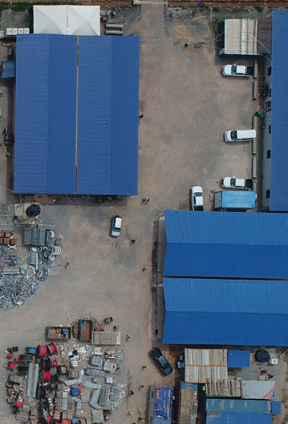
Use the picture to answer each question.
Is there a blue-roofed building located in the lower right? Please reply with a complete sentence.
Yes, the scene does show a blue-roofed building in the lower right.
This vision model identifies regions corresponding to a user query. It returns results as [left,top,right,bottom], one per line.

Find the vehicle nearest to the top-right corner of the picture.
[219,63,251,77]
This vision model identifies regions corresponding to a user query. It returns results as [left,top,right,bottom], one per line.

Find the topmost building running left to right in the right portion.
[154,212,288,278]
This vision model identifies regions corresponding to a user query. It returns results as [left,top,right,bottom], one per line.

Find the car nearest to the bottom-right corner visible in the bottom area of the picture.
[149,347,170,375]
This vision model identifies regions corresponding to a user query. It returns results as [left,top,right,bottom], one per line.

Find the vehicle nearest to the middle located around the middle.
[108,213,123,241]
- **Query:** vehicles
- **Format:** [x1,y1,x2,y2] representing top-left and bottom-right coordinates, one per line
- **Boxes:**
[108,213,123,241]
[221,130,255,143]
[219,176,251,191]
[219,63,251,77]
[188,183,204,212]
[149,347,170,375]
[208,191,255,210]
